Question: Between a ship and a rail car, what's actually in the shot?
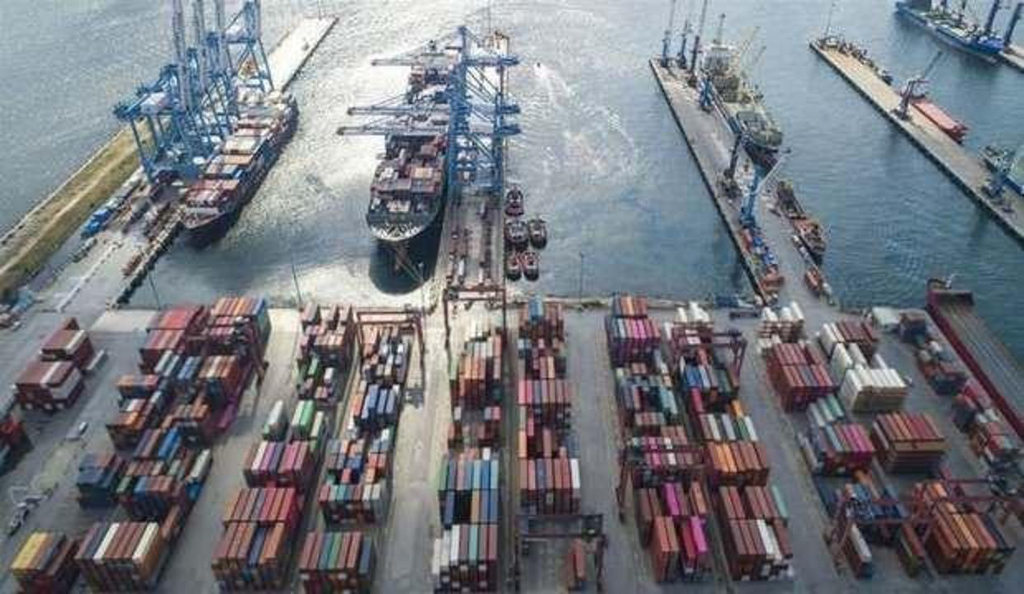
ship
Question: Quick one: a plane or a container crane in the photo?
container crane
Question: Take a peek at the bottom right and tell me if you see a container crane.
Yes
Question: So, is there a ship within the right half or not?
Yes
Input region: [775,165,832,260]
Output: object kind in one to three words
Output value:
ship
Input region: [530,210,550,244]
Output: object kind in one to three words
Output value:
boat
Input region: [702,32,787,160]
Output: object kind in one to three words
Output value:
ship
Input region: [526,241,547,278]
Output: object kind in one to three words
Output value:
boat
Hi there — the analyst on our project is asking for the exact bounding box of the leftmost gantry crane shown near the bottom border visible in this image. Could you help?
[513,510,614,594]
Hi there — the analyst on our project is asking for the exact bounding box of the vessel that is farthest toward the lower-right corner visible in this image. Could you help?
[921,279,1024,433]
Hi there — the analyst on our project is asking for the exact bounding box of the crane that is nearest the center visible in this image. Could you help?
[442,282,511,344]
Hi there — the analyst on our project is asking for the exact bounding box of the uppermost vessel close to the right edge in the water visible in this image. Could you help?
[900,0,1012,72]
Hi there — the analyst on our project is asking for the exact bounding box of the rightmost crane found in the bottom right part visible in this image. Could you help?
[887,469,1024,550]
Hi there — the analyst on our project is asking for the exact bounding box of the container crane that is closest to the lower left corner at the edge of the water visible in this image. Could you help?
[169,322,266,388]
